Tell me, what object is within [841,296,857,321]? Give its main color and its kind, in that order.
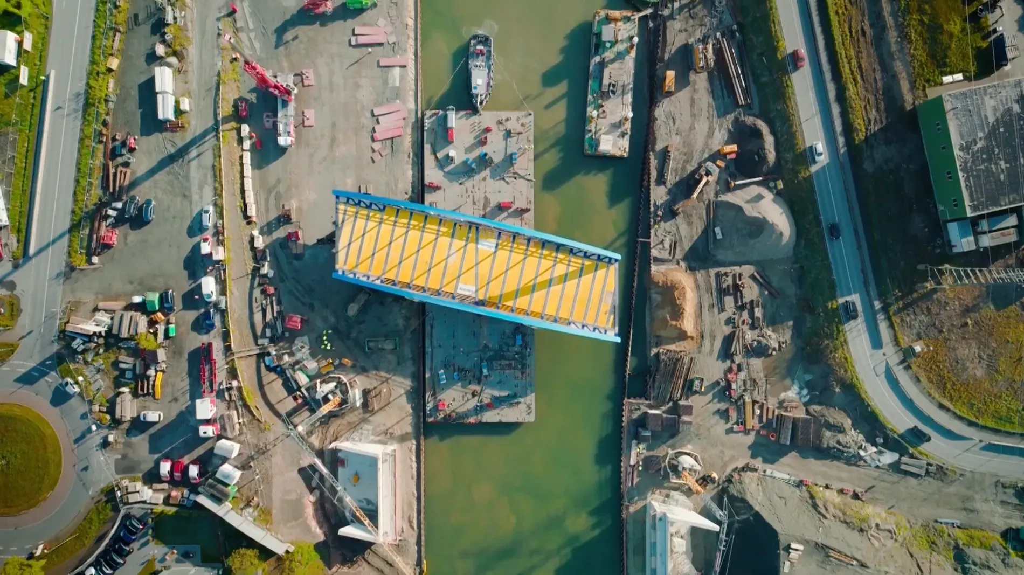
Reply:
black car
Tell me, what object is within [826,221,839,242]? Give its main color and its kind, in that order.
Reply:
black vehicle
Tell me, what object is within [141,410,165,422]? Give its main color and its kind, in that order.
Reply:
white vehicle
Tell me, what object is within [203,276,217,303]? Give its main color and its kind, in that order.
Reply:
white vehicle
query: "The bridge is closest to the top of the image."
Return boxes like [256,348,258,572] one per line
[331,189,622,342]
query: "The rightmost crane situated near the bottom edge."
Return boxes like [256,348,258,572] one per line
[662,445,740,575]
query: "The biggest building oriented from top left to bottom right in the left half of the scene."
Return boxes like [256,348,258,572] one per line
[196,487,297,554]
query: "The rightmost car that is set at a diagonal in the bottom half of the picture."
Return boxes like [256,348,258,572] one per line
[905,423,929,445]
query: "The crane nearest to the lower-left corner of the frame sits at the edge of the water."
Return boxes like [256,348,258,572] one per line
[281,366,418,575]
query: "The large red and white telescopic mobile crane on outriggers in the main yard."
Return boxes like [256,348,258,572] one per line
[221,34,314,147]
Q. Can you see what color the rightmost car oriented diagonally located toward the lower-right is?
black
